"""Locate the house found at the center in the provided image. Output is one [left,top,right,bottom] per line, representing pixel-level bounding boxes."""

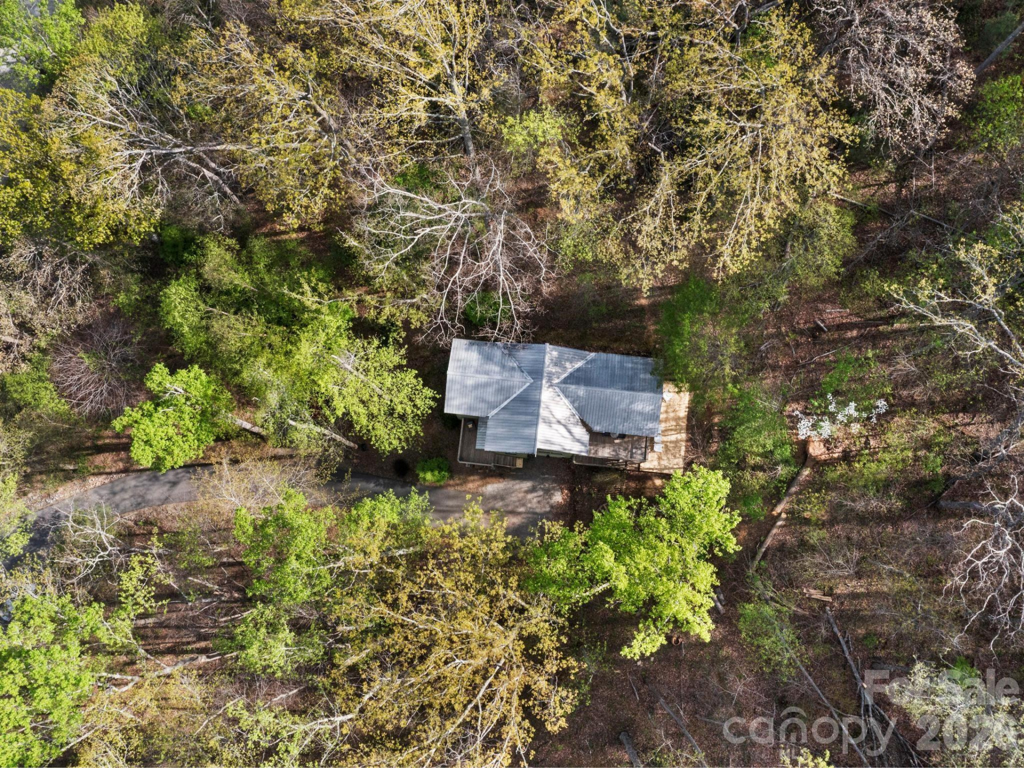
[444,340,665,461]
